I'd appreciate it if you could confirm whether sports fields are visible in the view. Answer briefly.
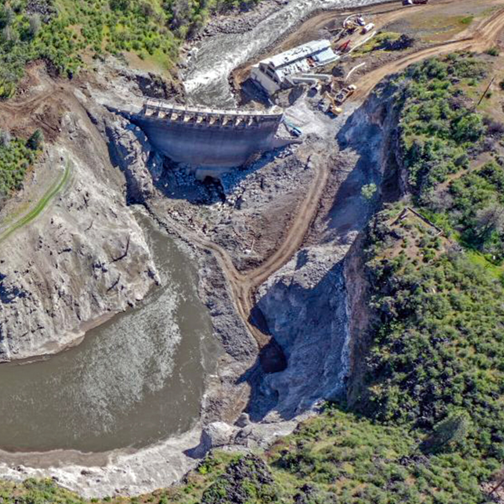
No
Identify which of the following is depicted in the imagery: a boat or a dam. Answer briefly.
dam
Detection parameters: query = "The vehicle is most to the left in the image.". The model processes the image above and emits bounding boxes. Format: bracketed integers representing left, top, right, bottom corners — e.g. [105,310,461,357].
[284,112,307,134]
